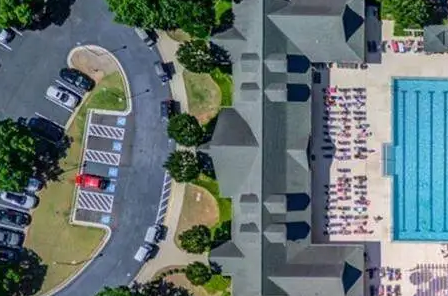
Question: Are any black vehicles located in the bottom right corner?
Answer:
No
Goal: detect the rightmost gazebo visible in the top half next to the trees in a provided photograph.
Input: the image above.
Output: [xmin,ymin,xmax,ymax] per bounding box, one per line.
[424,26,448,56]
